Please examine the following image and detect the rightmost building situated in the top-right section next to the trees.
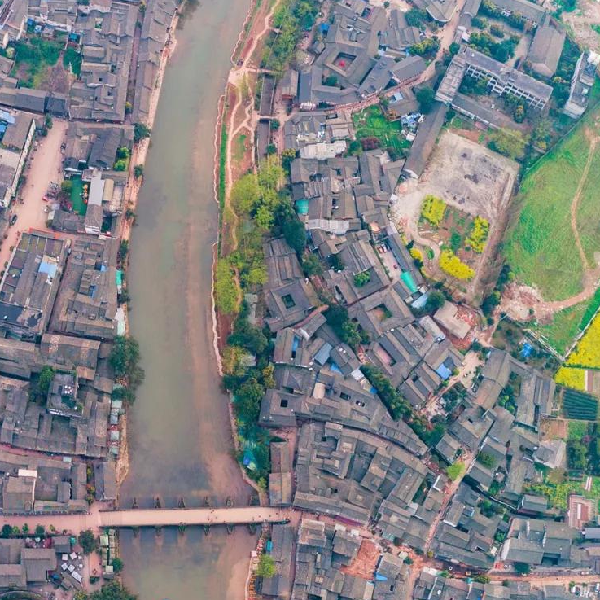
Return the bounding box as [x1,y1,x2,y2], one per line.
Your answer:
[556,52,599,122]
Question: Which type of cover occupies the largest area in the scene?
buildings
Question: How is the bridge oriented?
from side to side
